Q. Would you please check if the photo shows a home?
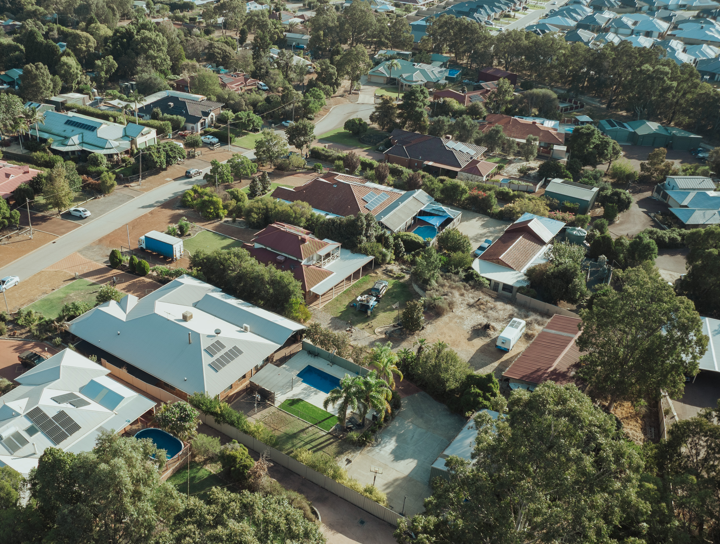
Yes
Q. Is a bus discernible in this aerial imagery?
Yes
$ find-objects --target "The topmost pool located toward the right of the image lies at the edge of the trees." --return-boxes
[445,68,462,86]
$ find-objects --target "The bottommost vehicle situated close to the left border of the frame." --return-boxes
[11,347,50,366]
